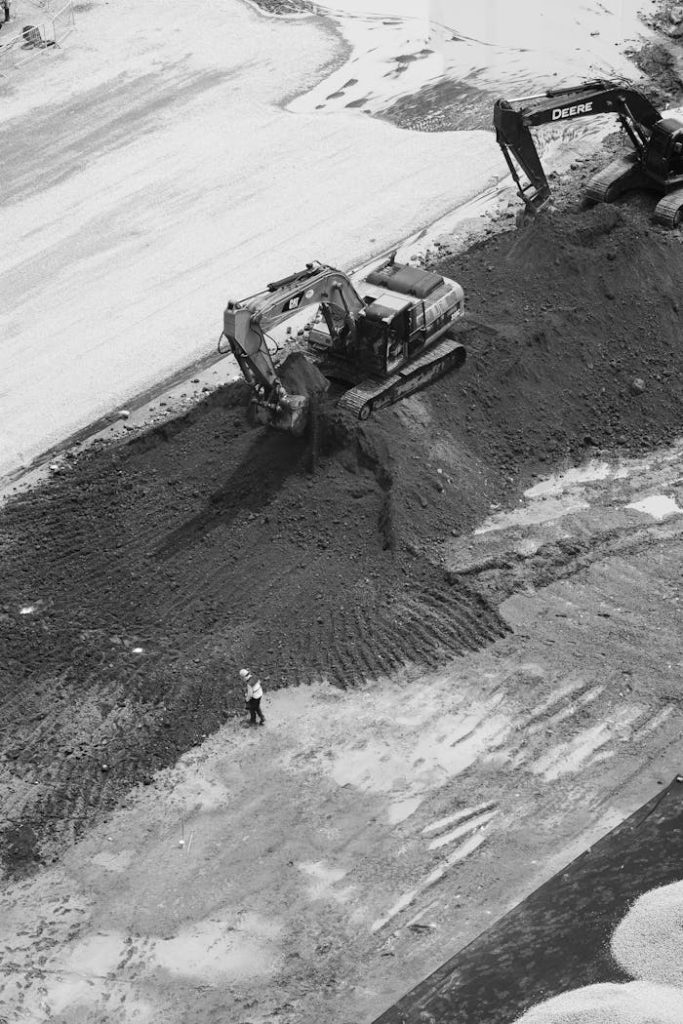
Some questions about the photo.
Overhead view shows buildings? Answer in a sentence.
No, no building is visible in the scene.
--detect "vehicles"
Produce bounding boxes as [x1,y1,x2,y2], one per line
[218,254,472,436]
[495,63,683,231]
